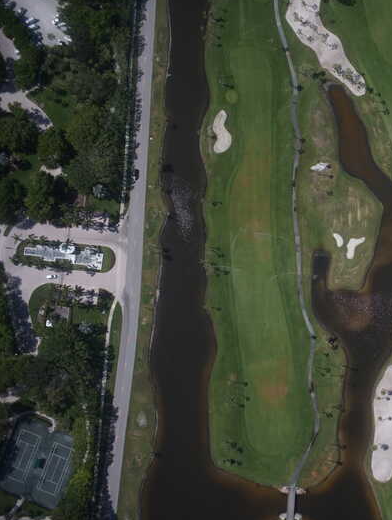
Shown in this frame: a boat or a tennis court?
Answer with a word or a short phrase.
tennis court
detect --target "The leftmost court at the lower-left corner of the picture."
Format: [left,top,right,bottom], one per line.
[0,420,49,493]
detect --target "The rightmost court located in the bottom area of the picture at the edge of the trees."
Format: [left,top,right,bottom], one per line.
[30,432,80,506]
